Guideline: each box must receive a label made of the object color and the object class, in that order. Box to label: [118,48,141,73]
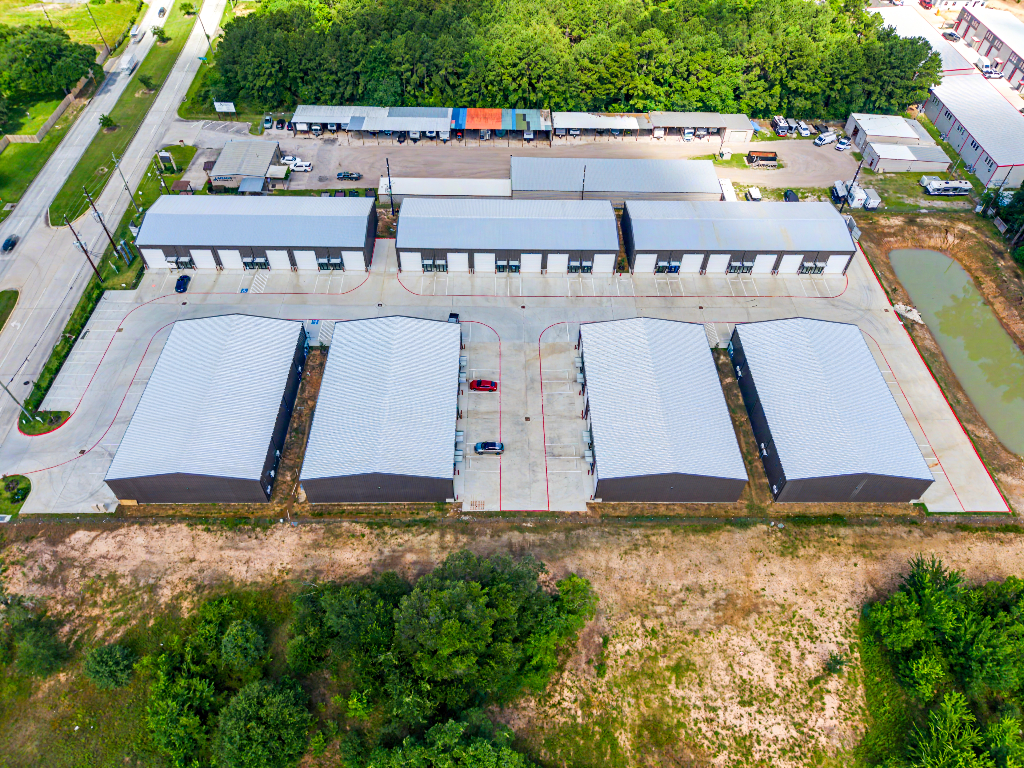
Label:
white truck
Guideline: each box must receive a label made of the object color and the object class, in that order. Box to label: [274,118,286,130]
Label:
black vehicle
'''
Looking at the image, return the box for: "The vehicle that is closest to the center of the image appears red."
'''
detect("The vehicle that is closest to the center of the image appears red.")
[470,381,498,393]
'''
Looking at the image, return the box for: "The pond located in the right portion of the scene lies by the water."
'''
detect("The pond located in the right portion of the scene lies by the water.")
[888,248,1024,455]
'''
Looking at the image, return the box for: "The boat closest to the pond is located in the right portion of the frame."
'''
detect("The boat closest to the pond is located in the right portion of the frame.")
[778,181,799,201]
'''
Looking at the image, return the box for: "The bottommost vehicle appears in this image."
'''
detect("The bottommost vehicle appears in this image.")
[474,443,504,458]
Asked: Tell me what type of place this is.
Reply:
industrial area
